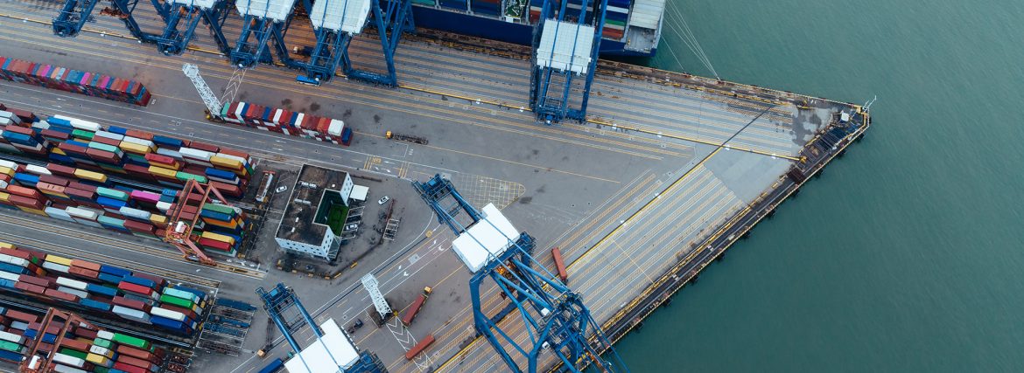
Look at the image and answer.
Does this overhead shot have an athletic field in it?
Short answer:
No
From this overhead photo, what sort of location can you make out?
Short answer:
port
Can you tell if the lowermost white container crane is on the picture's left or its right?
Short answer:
left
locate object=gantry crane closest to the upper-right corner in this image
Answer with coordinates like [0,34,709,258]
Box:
[524,0,610,126]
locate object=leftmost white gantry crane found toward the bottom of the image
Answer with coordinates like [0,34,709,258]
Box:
[261,275,392,373]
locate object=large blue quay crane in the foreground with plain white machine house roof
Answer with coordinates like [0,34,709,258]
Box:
[419,170,636,373]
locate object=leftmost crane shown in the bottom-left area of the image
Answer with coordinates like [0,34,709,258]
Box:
[9,303,108,373]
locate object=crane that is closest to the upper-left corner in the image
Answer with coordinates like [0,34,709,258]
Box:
[50,0,216,49]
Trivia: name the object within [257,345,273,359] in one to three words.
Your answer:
vehicle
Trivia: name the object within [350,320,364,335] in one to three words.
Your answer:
vehicle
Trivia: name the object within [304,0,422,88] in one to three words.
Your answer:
container crane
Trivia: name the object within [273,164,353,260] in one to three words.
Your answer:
building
